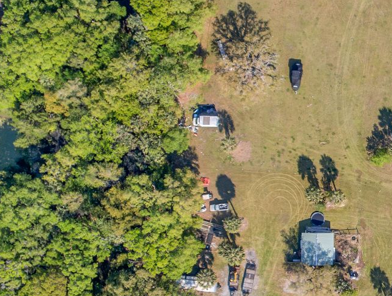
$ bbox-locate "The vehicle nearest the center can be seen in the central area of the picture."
[194,114,220,127]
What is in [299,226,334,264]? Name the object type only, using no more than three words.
shed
